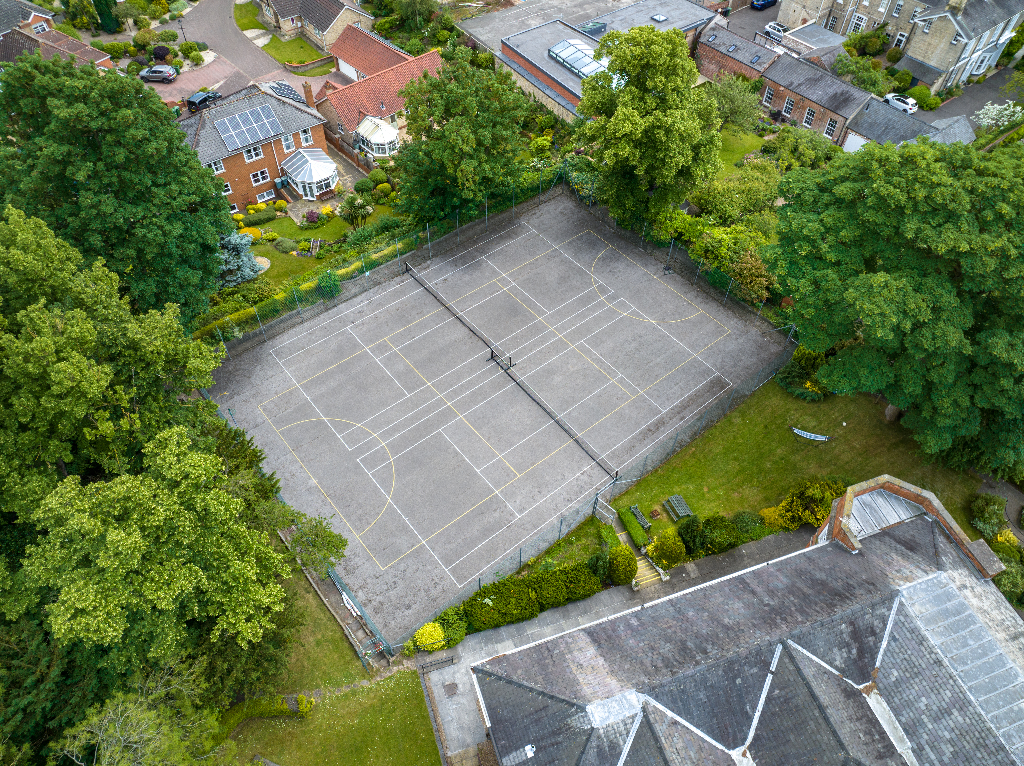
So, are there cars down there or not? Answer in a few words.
Yes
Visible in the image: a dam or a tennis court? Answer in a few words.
tennis court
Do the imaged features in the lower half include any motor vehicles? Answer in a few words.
No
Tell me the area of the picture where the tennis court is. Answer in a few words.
center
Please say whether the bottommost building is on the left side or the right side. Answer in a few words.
right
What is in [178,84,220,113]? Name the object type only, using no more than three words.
car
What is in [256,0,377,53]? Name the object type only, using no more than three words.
house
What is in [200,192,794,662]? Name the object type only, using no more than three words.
tennis court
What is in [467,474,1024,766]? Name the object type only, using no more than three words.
building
